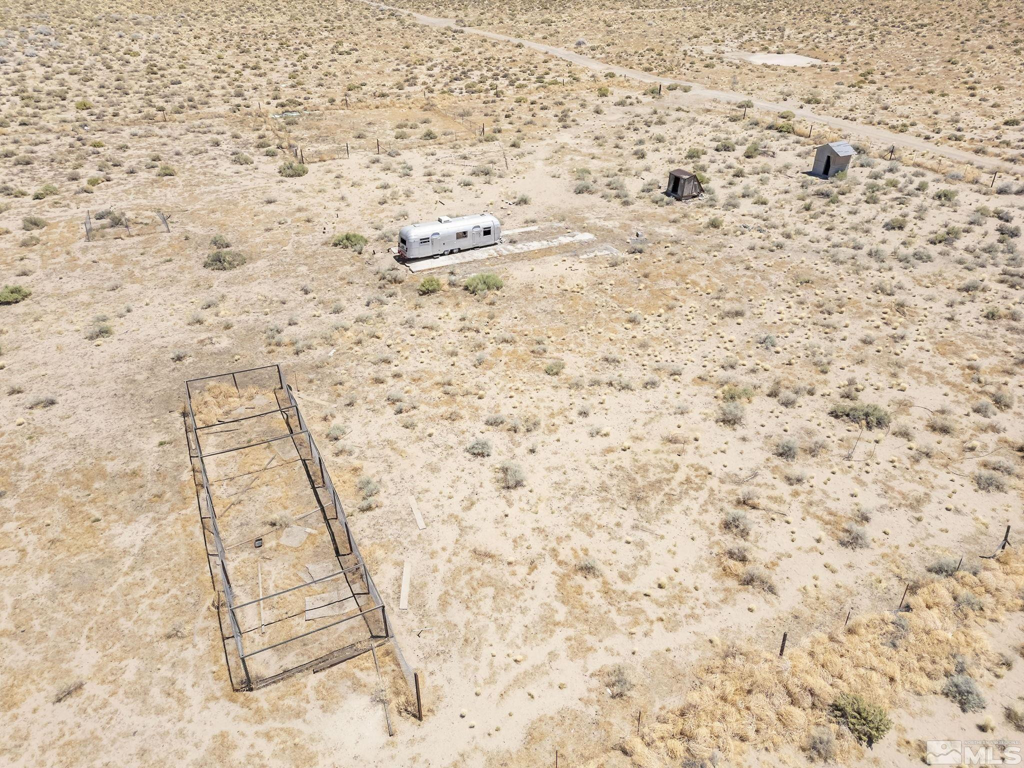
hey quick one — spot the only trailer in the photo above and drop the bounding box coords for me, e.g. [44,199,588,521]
[395,212,508,259]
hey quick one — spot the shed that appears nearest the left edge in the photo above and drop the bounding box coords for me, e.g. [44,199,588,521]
[667,170,703,198]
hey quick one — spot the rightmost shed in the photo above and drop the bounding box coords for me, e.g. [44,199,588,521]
[812,144,856,178]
